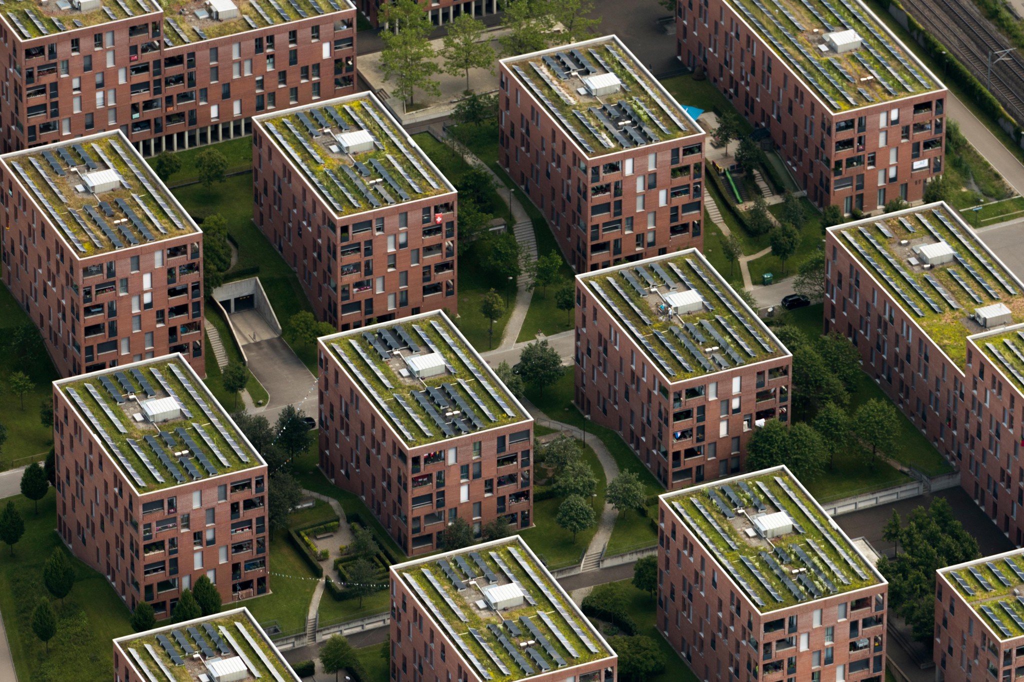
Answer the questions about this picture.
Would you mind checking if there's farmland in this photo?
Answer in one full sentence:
No, there's no farmland in this view.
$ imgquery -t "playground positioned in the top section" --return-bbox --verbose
[692,110,742,165]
